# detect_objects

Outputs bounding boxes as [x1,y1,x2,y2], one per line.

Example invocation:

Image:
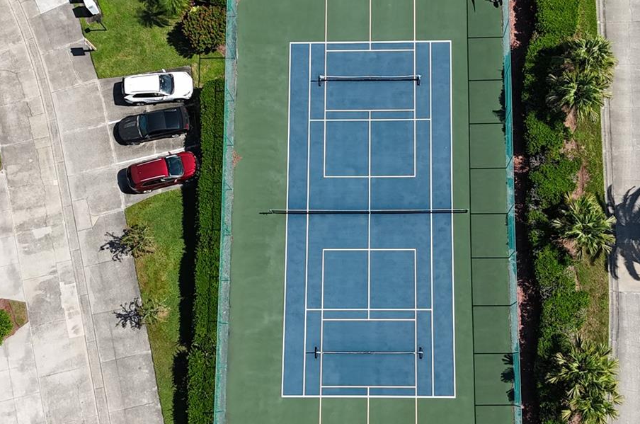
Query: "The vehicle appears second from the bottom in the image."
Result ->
[117,105,192,146]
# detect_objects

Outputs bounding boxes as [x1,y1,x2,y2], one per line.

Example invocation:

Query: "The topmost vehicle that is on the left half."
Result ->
[123,70,192,106]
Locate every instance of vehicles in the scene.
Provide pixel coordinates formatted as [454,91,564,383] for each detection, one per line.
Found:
[126,151,198,192]
[117,105,192,146]
[123,70,192,106]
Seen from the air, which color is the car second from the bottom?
black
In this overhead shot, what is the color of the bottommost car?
red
